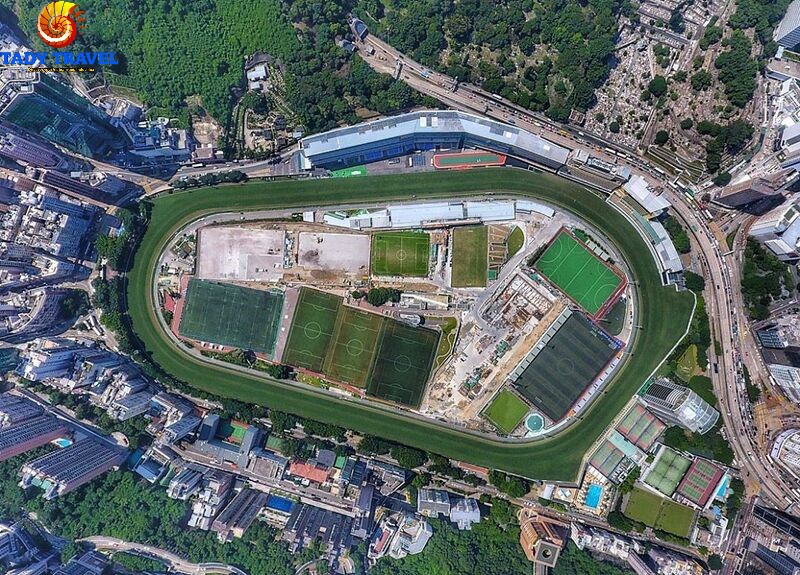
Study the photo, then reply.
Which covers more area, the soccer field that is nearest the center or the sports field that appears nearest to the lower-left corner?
the sports field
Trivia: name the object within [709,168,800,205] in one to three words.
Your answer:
building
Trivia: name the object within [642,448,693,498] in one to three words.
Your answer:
tennis court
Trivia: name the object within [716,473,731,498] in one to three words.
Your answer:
swimming pool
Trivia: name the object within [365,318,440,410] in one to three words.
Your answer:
soccer field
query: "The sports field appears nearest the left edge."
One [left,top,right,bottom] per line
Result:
[180,279,283,354]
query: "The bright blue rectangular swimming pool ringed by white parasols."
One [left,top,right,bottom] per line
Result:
[584,483,603,509]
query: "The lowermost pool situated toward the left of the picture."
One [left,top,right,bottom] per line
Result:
[265,495,293,514]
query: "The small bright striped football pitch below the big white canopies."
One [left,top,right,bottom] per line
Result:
[370,231,431,277]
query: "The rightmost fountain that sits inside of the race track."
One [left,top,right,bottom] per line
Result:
[525,412,545,433]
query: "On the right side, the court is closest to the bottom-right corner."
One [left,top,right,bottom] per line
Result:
[677,459,727,508]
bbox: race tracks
[125,167,695,485]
